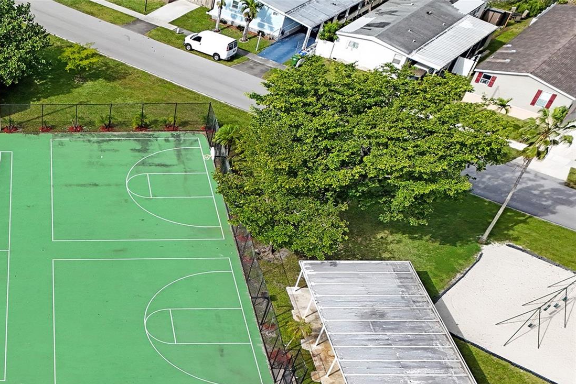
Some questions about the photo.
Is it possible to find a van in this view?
Yes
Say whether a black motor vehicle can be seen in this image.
No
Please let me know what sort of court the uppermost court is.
basketball court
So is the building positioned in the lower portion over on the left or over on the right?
right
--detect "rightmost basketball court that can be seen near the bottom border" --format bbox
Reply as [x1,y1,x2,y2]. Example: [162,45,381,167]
[30,248,273,384]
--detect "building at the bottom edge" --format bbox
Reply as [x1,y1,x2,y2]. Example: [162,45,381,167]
[285,261,474,384]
